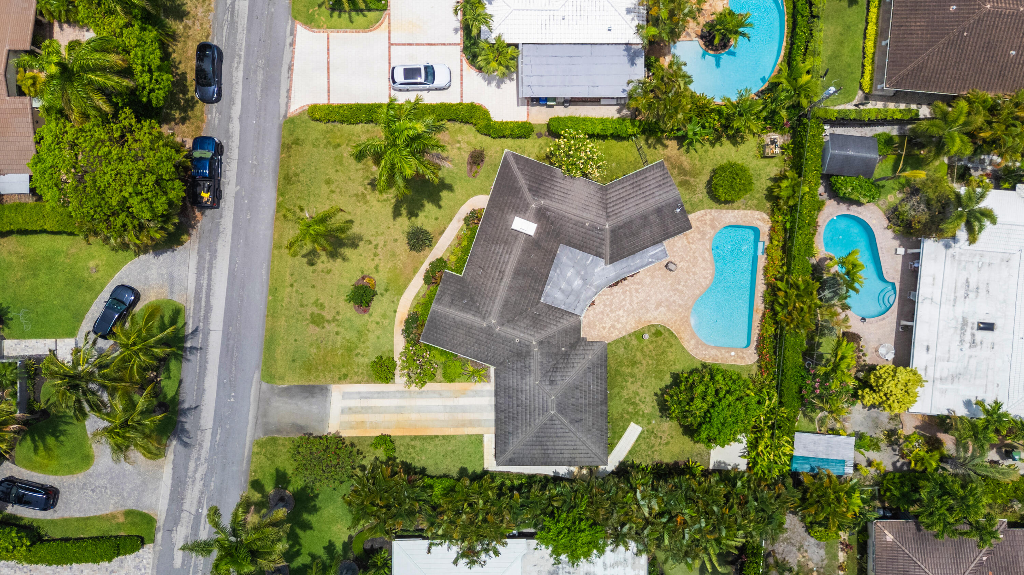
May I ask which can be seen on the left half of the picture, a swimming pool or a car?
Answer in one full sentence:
What appears on the left half of the picture is a car.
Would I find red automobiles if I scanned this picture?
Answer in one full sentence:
No, there isn't any red automobile down there.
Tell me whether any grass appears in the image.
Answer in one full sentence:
Yes, grass can be seen from above here.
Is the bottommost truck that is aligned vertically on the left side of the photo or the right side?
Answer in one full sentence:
The bottommost truck that is aligned vertically sits on the left side.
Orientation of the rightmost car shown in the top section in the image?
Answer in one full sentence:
I'd say the rightmost car shown in the top section is aligned from side to side in the picture.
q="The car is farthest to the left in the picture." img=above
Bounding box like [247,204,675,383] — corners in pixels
[0,476,51,514]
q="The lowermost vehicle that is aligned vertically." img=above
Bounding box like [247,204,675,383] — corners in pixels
[188,138,222,206]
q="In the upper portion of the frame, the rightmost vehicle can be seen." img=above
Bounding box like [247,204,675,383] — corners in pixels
[390,56,450,86]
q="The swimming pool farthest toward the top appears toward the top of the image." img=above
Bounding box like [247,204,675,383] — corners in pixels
[668,0,781,105]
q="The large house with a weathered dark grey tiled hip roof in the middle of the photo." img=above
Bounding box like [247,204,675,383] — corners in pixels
[420,149,692,468]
